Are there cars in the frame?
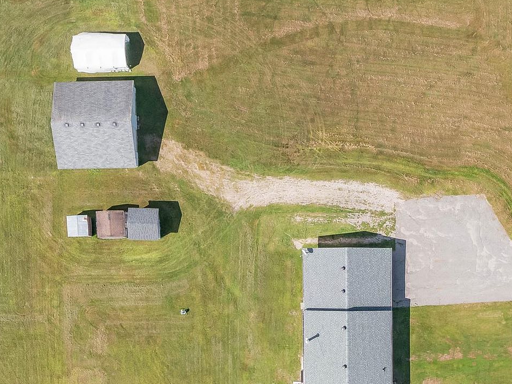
No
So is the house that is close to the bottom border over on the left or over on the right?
right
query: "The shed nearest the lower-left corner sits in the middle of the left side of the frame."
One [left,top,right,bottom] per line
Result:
[67,216,91,237]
